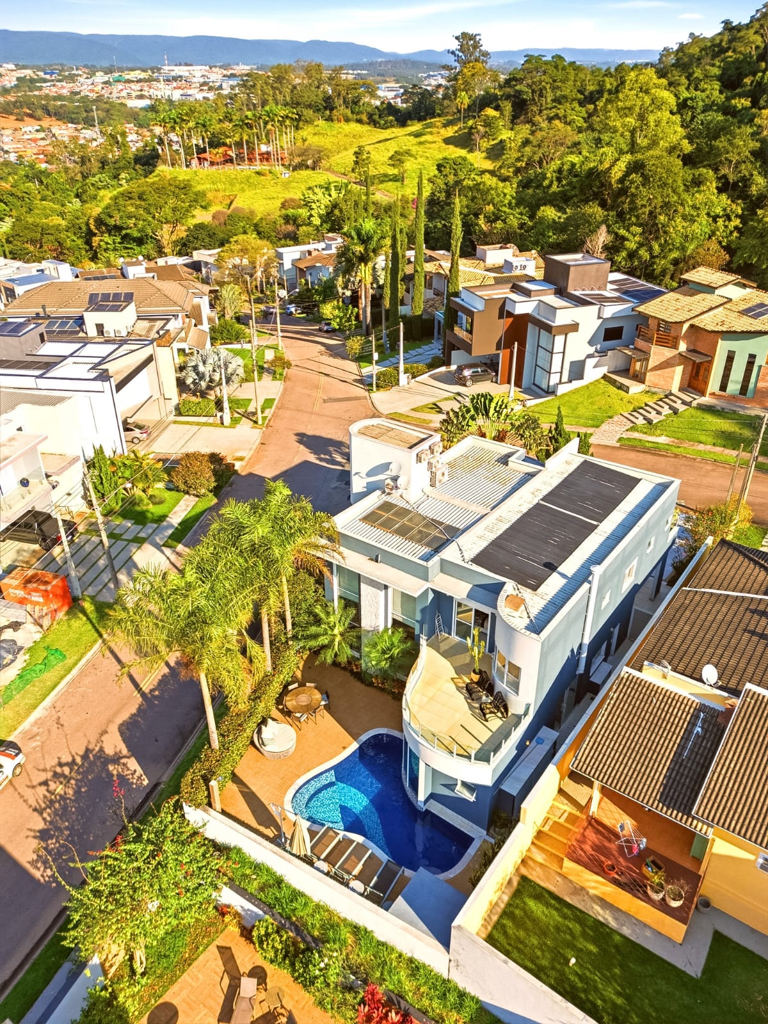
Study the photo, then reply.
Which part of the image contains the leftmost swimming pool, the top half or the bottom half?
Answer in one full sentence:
The bottom half of the photo is where the leftmost swimming pool is.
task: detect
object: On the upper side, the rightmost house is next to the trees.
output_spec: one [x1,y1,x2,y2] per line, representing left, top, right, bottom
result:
[619,264,768,410]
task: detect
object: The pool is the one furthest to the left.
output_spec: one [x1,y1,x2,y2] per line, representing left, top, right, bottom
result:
[282,720,504,883]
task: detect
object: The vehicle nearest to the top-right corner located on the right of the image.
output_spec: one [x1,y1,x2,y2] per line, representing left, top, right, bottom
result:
[452,367,500,389]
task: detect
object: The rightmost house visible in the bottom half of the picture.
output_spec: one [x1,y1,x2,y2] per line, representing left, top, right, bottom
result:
[532,527,768,945]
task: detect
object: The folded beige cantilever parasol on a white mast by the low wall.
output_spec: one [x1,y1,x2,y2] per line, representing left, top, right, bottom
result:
[273,807,306,853]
